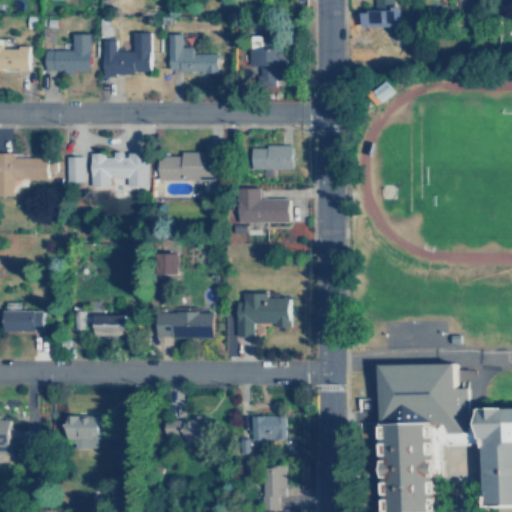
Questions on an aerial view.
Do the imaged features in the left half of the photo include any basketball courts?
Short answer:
No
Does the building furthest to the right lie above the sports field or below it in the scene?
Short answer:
below it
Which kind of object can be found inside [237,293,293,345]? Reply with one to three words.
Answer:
house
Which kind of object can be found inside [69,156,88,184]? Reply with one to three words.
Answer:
building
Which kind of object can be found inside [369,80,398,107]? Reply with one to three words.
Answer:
shed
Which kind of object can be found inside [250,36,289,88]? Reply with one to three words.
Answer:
house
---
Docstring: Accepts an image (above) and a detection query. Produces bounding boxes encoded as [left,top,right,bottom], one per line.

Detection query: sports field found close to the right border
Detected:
[374,92,512,252]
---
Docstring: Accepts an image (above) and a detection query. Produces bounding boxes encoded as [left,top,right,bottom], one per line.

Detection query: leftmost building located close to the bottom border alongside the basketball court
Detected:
[374,364,471,512]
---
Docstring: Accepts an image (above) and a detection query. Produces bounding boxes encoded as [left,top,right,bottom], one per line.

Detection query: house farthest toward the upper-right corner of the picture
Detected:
[358,0,402,28]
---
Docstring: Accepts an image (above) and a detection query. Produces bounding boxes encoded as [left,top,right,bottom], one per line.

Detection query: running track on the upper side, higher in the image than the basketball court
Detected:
[362,82,512,264]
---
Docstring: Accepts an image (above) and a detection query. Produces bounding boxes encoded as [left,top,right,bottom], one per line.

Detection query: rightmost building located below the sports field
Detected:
[470,408,512,508]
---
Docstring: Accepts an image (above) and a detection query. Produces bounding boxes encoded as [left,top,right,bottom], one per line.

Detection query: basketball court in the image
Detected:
[388,322,448,348]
